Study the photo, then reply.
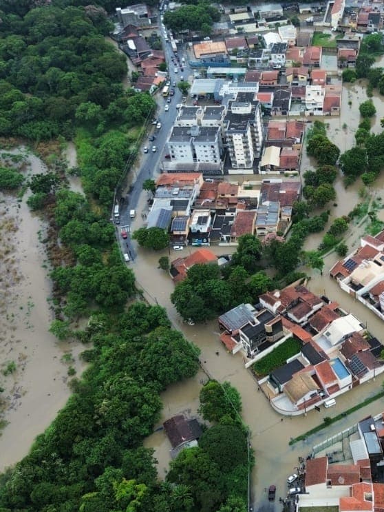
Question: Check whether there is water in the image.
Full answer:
Yes, water can be seen from above here.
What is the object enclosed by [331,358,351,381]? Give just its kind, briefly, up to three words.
swimming pool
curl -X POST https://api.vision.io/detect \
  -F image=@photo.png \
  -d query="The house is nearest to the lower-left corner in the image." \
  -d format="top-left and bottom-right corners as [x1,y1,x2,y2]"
[162,414,204,452]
